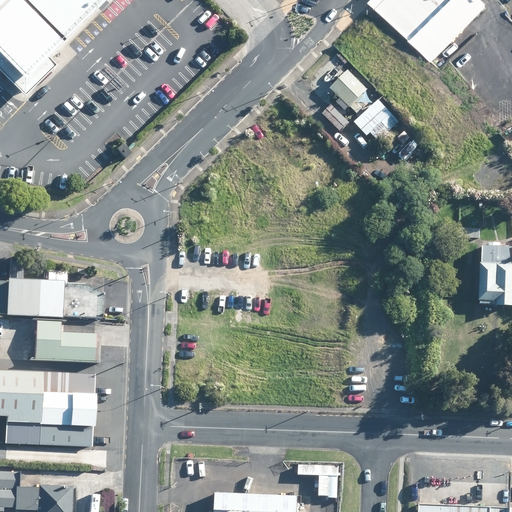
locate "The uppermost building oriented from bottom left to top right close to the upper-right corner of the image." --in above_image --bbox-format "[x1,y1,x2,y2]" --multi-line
[407,0,490,62]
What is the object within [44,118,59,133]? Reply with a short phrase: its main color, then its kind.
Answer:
white car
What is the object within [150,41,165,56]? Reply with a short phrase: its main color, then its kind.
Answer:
white car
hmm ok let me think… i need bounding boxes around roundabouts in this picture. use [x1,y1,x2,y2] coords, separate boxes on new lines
[109,208,145,244]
